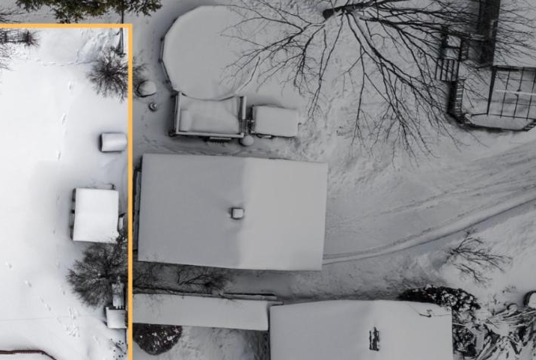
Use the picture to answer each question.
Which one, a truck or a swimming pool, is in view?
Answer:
swimming pool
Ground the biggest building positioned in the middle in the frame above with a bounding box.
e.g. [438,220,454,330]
[135,153,328,271]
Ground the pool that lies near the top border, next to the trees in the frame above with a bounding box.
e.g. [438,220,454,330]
[157,4,256,101]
